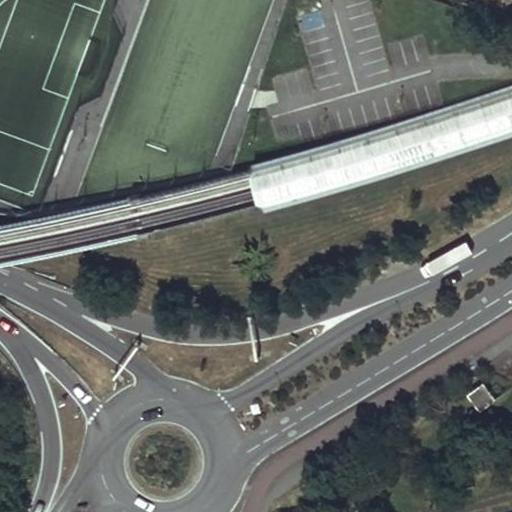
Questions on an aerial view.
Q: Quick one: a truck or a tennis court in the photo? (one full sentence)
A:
The image shows a truck.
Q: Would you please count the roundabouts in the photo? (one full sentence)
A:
The picture shows just 1 roundabout.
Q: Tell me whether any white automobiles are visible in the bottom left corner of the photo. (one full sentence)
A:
Yes, I can see a white automobile in the bottom left corner of the photo.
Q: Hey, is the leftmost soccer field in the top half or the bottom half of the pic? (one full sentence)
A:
Seen from above, the leftmost soccer field lies in the top half of the view.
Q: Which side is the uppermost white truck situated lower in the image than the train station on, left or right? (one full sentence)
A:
The uppermost white truck situated lower in the image than the train station appears in the right half of the scene.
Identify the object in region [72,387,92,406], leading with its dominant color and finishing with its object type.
white car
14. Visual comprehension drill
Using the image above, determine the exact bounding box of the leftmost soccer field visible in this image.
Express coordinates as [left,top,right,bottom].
[0,0,122,213]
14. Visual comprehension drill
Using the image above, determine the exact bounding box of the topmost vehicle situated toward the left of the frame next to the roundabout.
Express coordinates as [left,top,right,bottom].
[141,408,162,422]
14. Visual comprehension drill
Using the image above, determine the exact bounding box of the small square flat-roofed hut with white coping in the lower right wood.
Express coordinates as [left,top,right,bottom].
[466,384,495,412]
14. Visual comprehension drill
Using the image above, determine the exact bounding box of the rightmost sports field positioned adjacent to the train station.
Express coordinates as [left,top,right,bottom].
[74,0,278,211]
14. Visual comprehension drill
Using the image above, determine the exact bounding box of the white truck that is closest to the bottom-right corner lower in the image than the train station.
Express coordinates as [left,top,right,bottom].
[420,242,472,280]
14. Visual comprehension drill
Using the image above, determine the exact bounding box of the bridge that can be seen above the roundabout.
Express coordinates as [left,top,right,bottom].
[0,96,511,269]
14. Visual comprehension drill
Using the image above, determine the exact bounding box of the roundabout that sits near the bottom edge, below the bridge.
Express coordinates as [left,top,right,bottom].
[126,422,204,501]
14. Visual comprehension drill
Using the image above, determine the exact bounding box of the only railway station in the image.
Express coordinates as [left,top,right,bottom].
[250,86,512,210]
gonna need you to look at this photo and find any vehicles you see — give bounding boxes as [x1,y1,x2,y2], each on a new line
[135,498,156,512]
[141,408,162,422]
[0,318,18,336]
[72,387,92,406]
[420,242,472,280]
[442,270,462,286]
[34,502,46,512]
